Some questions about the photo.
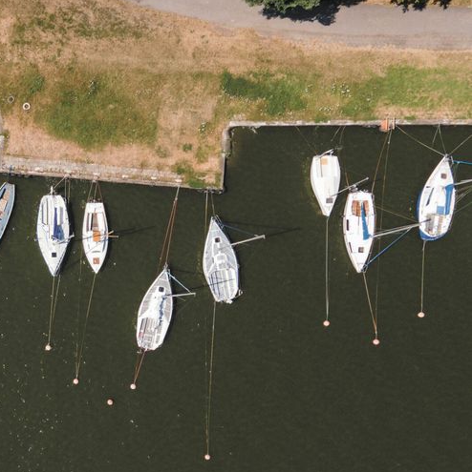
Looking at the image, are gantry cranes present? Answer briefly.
No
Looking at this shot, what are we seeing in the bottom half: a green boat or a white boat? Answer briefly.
white boat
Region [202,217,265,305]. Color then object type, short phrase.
white boat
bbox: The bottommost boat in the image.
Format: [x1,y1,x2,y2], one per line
[136,269,197,350]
